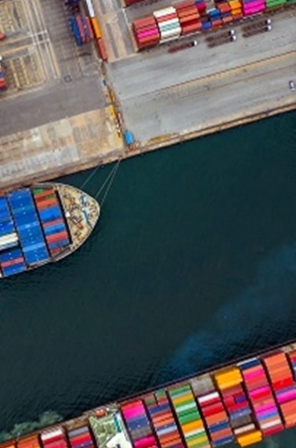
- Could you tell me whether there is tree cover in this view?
No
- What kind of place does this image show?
port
